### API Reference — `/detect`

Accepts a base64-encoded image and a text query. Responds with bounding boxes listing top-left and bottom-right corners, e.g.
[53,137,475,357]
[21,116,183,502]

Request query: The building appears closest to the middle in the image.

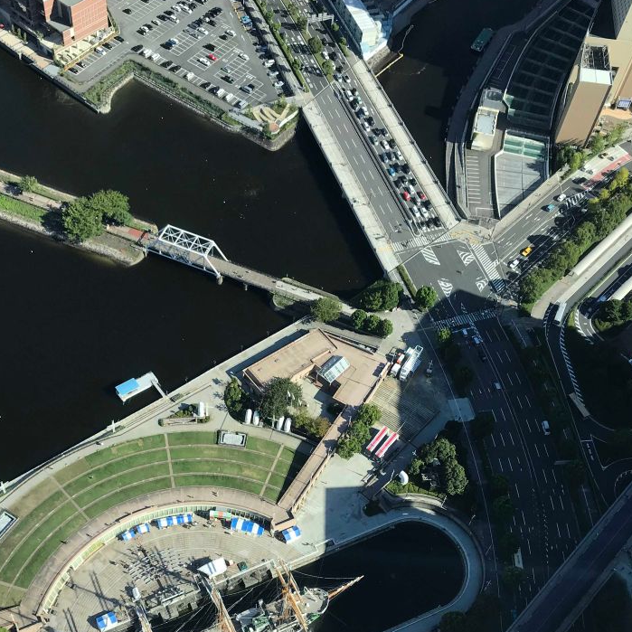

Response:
[243,328,390,414]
